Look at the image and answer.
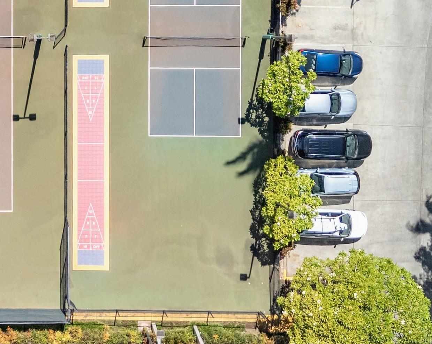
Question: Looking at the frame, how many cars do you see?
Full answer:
The number of cars here is 5.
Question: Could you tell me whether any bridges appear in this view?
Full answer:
No, no bridge is visible in the view.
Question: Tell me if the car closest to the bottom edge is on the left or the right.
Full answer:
The car closest to the bottom edge appears in the right half of the scene.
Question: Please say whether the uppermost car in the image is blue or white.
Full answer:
In this view, the uppermost car is blue.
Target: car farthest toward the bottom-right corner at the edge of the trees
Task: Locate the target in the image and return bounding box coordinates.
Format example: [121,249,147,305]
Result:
[294,209,366,244]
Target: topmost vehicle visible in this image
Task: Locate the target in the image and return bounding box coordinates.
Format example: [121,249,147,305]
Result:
[296,47,362,81]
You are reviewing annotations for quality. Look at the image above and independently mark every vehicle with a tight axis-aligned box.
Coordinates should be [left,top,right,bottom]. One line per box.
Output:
[293,128,370,163]
[296,47,362,81]
[294,209,366,244]
[291,167,359,201]
[287,85,358,119]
